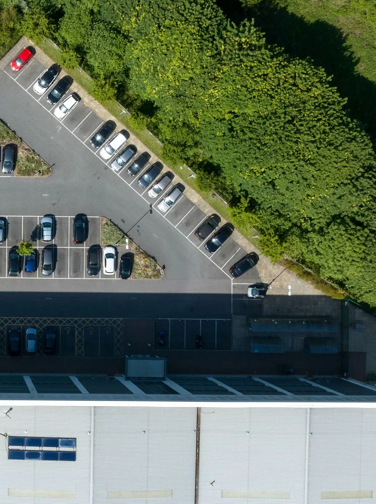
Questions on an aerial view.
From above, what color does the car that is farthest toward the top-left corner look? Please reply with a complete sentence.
The color of the car that is farthest toward the top-left corner is red.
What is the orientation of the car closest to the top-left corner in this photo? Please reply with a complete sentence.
What the image shows is the car closest to the top-left corner lying at an angle.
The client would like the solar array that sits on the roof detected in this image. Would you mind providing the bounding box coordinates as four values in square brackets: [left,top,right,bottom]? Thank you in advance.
[8,436,77,463]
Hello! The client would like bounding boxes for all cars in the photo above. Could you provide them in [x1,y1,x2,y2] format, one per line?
[118,256,132,279]
[101,129,130,160]
[24,252,36,274]
[41,248,54,276]
[102,246,116,275]
[111,144,137,171]
[194,214,221,241]
[127,150,152,176]
[41,217,54,243]
[2,146,14,174]
[86,247,100,275]
[157,185,185,213]
[205,223,235,252]
[229,252,259,278]
[54,91,81,119]
[0,219,6,244]
[147,173,173,199]
[25,328,36,353]
[246,285,266,298]
[73,217,85,244]
[33,63,61,94]
[7,248,21,276]
[137,161,164,189]
[47,75,74,105]
[90,119,117,148]
[9,46,35,73]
